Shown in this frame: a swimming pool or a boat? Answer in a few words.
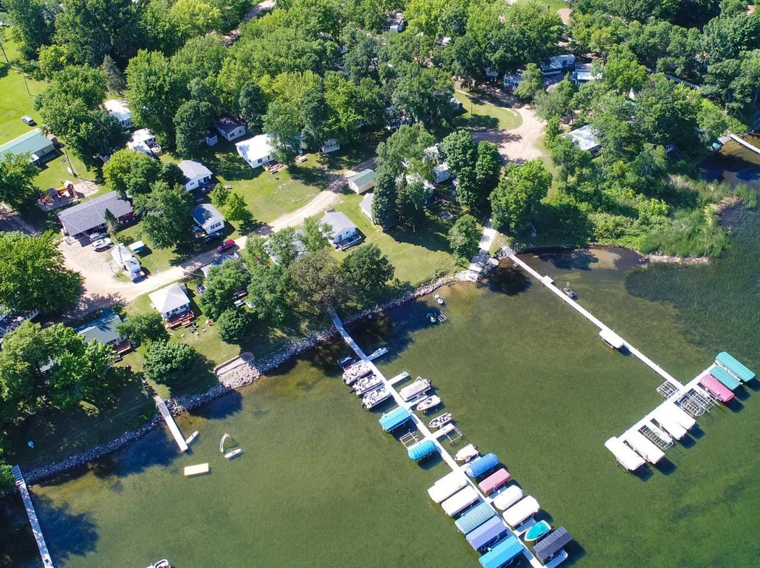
boat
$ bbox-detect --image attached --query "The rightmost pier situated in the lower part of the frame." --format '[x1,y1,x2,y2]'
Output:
[499,247,717,445]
